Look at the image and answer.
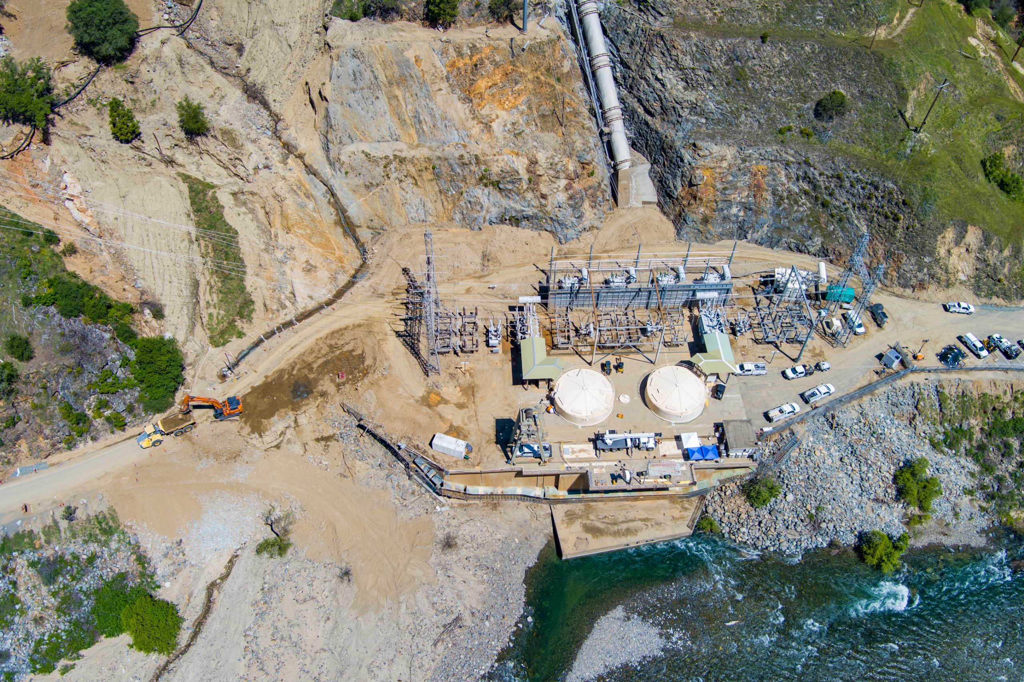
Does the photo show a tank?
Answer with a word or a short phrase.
Yes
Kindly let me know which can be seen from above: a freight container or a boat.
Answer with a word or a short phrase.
freight container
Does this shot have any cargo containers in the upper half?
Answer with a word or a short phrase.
No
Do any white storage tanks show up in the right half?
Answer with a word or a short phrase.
Yes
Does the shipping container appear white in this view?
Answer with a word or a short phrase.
Yes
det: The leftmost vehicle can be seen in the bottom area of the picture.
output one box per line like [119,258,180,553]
[137,412,197,449]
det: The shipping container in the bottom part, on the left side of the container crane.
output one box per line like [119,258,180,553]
[431,431,475,464]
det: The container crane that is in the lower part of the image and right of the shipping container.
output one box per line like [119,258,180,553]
[508,404,548,463]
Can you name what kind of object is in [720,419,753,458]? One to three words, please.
building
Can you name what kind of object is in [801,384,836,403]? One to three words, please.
vehicle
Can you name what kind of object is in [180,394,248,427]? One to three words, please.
work vehicle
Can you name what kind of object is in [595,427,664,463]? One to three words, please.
truck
